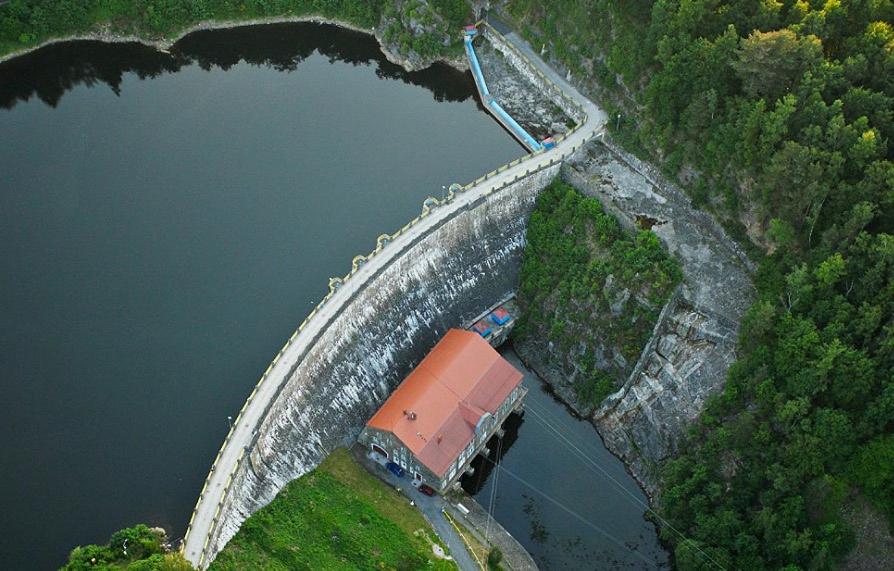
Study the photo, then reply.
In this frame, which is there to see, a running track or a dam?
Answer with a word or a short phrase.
dam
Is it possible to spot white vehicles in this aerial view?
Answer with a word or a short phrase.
No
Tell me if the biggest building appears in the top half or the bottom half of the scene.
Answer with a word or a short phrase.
bottom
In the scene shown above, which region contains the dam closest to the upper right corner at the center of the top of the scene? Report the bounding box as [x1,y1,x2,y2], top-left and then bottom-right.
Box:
[464,22,559,152]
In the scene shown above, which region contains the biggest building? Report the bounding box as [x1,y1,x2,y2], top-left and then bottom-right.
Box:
[359,327,528,498]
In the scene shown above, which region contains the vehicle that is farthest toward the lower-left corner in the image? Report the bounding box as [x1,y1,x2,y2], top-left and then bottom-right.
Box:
[382,458,403,476]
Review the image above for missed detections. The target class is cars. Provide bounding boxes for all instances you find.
[416,480,437,497]
[382,458,403,476]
